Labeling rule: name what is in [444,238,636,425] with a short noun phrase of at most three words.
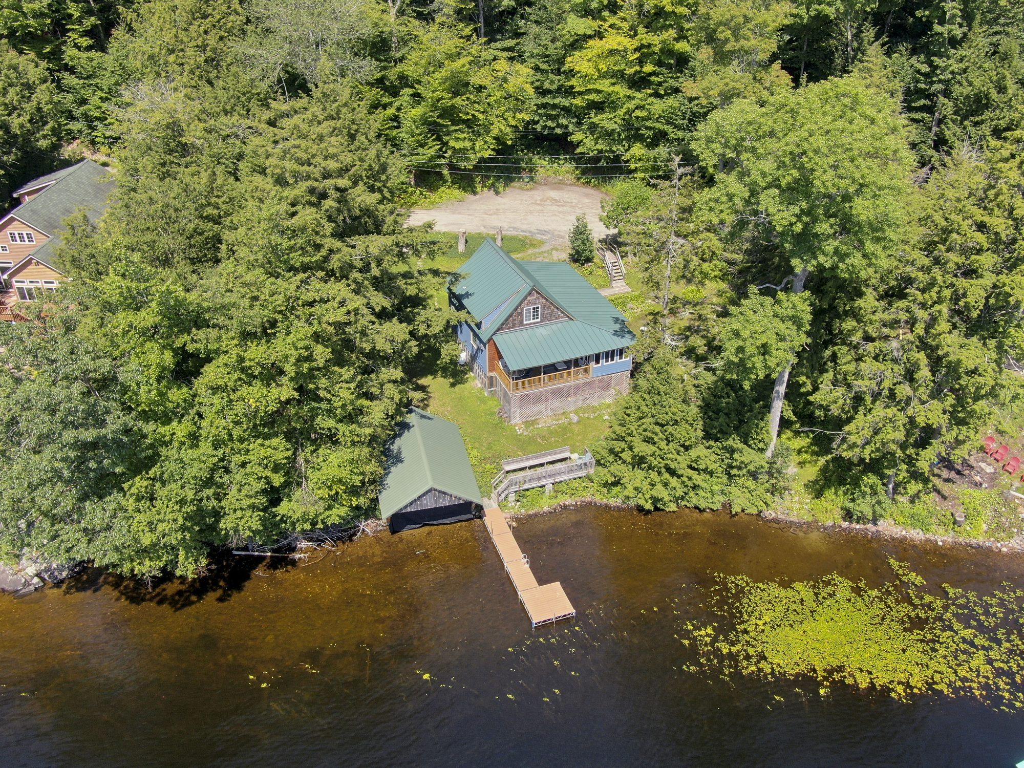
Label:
house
